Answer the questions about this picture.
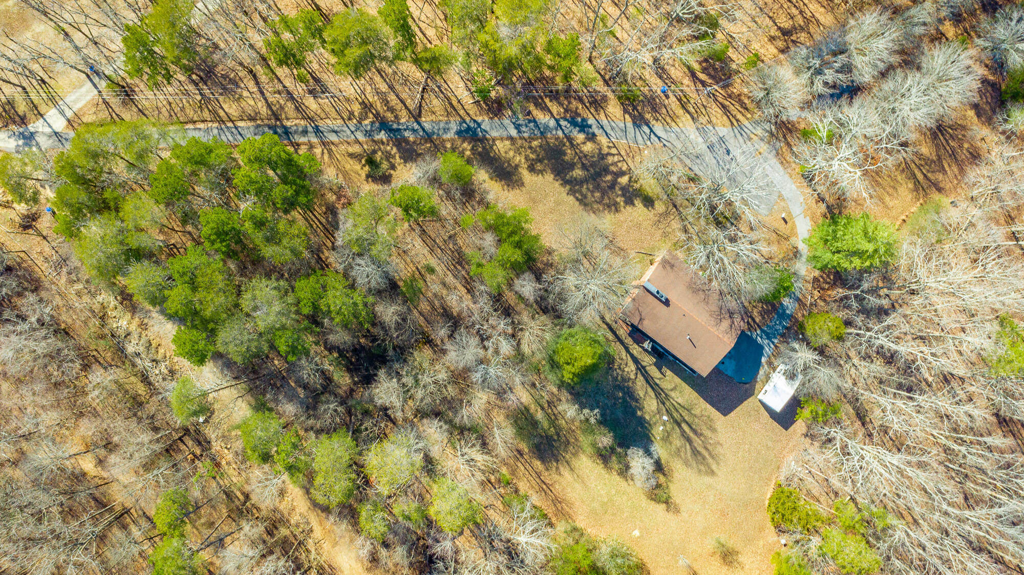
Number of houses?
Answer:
1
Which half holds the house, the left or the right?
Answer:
right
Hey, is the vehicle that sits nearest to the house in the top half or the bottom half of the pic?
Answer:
bottom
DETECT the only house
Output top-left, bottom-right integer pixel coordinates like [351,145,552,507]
[618,250,751,377]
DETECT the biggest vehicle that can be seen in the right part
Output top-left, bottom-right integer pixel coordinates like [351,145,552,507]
[754,363,801,412]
